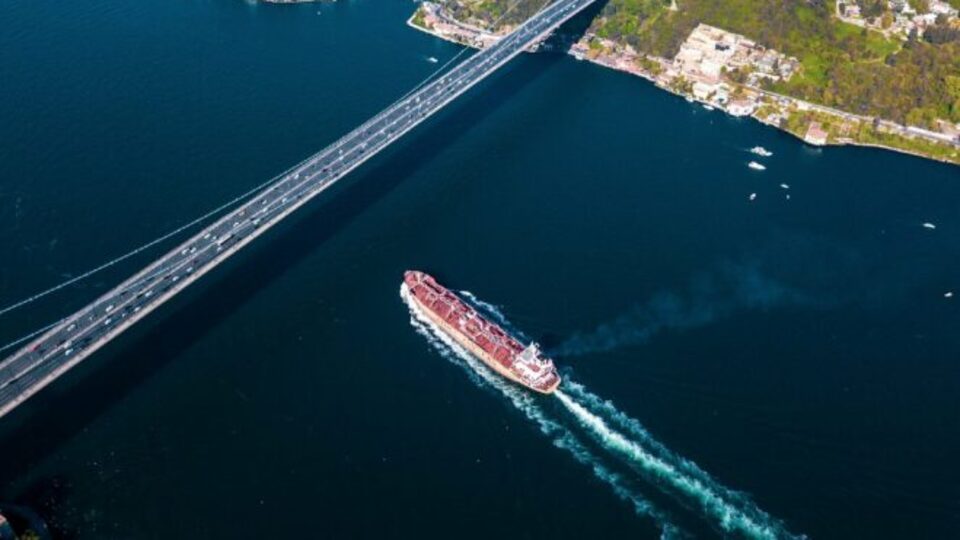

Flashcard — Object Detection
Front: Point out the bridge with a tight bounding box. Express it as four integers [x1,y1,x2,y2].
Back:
[0,0,624,413]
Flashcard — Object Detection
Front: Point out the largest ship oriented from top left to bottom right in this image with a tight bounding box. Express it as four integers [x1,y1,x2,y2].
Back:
[401,268,568,395]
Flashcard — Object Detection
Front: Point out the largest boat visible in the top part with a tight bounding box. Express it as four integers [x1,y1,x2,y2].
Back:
[748,142,772,155]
